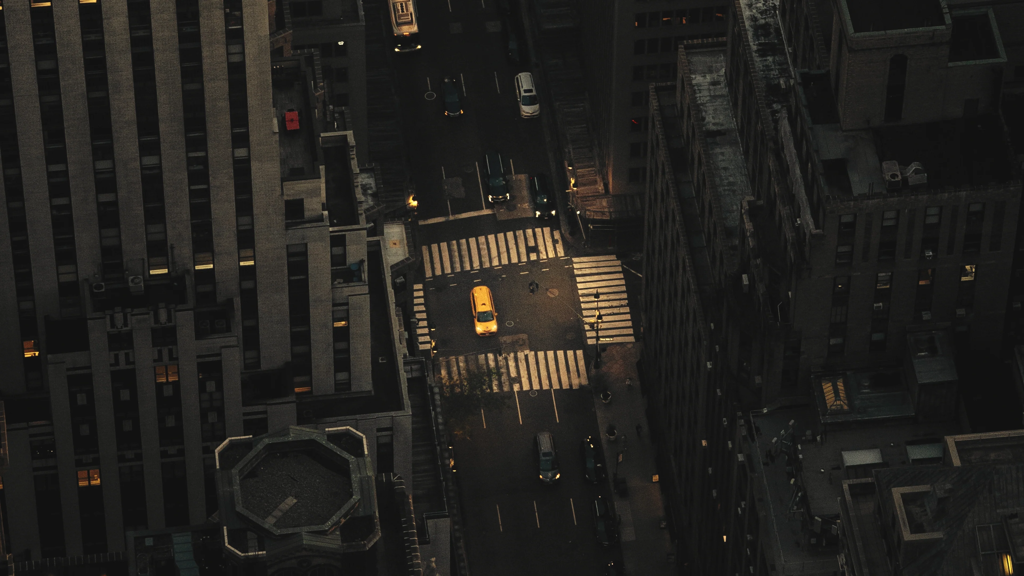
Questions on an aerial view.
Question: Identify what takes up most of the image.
buildings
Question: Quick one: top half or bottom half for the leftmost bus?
top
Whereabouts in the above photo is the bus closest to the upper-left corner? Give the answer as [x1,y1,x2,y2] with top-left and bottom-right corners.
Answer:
[389,0,424,52]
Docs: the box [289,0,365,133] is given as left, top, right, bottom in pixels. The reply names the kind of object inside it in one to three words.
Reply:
building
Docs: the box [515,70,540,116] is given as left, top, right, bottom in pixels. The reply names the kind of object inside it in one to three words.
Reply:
car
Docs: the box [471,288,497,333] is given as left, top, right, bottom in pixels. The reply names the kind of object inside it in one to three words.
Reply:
car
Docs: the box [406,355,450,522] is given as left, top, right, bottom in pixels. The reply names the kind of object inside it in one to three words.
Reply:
shed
